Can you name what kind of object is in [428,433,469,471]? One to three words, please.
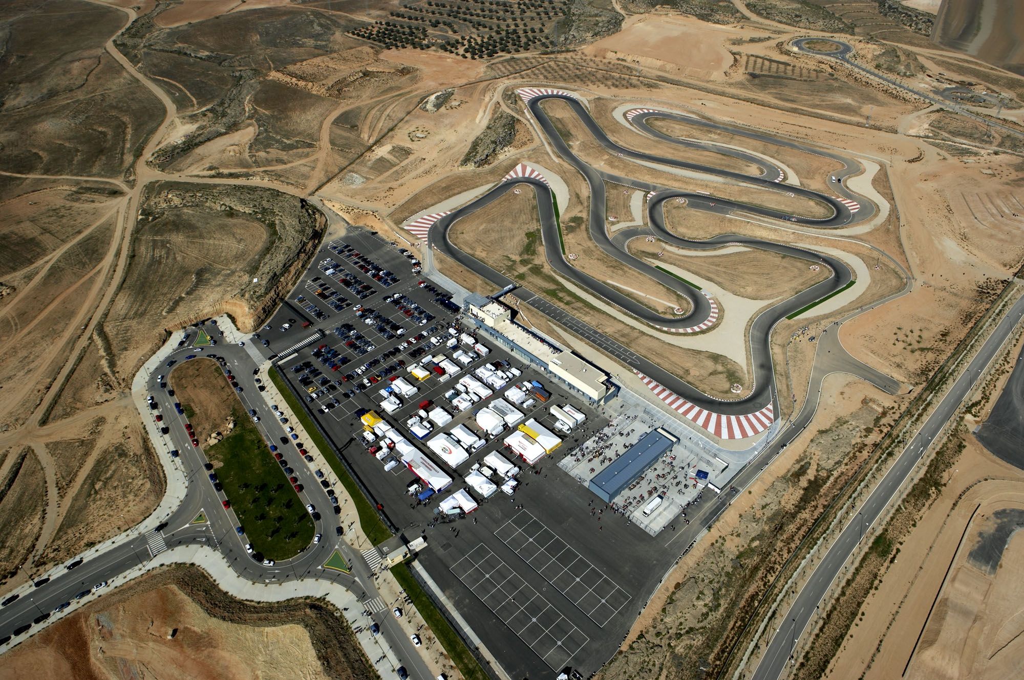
tent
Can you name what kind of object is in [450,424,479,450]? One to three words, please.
tent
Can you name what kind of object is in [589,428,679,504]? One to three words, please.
building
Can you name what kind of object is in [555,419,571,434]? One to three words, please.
vehicle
